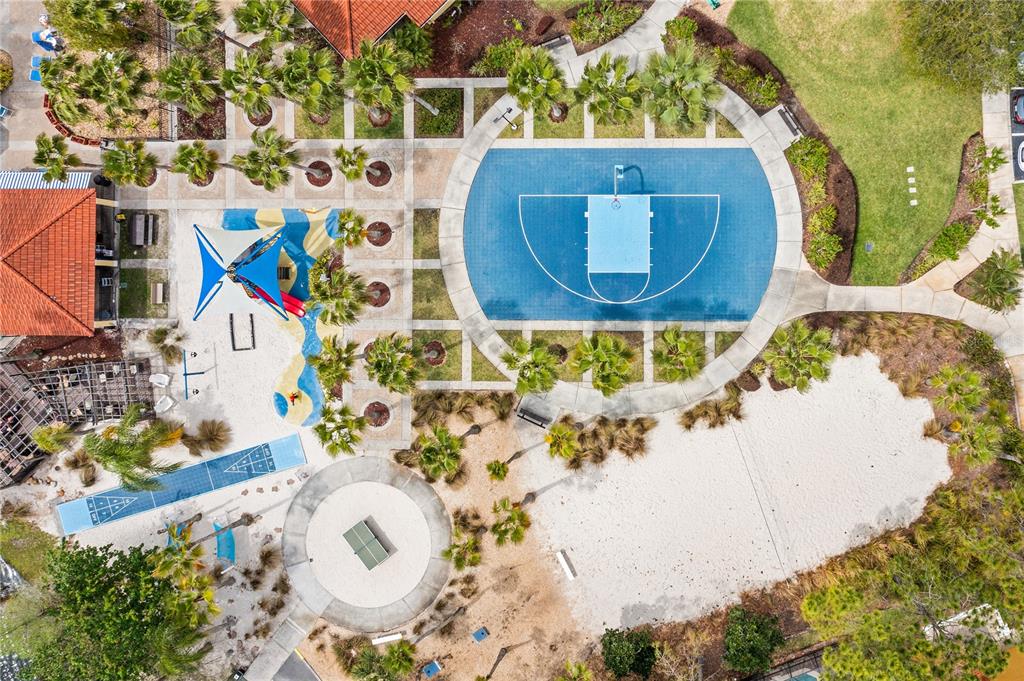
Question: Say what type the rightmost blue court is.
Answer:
basketball court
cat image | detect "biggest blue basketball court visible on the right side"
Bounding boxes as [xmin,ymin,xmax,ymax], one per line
[463,149,778,321]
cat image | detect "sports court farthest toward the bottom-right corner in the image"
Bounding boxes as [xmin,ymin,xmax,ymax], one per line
[528,350,953,635]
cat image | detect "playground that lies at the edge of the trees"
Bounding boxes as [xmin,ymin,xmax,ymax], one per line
[222,208,344,426]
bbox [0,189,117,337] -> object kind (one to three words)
building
